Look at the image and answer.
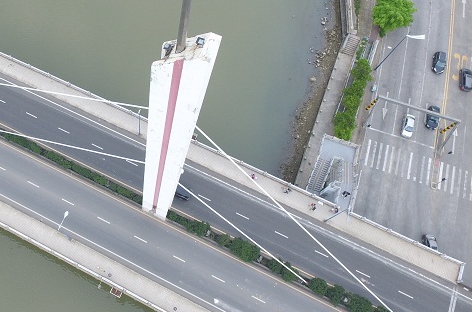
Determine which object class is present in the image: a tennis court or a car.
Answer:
car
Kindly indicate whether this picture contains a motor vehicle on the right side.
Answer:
Yes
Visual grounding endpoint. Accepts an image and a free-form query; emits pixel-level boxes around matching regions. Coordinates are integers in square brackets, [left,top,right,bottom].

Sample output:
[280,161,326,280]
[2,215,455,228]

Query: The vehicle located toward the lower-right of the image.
[423,231,440,249]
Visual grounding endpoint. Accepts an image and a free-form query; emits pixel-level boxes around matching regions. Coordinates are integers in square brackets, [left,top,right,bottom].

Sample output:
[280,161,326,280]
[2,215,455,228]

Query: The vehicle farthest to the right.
[457,68,472,92]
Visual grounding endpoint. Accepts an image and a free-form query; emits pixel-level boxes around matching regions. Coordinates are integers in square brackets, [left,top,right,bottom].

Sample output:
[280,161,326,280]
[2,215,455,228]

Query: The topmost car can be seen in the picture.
[430,49,446,74]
